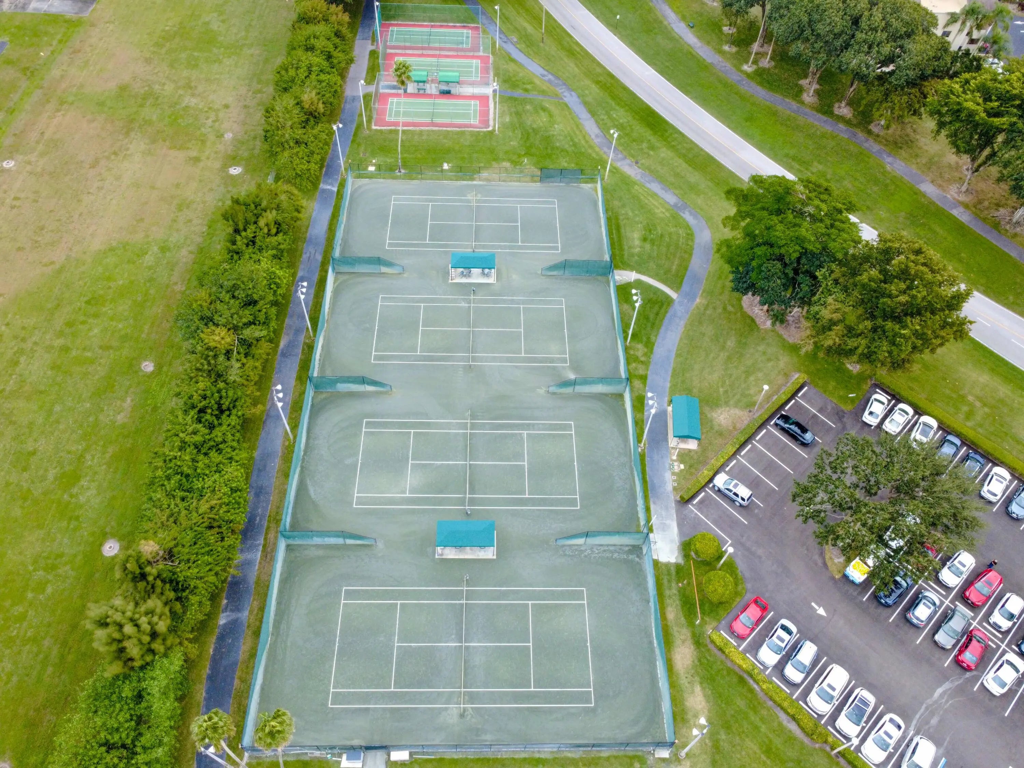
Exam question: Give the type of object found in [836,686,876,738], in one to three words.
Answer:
car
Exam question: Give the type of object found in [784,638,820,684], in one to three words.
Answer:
car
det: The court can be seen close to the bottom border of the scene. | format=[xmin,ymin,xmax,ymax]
[250,544,668,751]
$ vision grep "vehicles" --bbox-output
[906,590,940,628]
[810,663,849,714]
[984,651,1023,696]
[759,618,796,666]
[845,545,880,584]
[836,686,876,738]
[958,450,986,482]
[1013,625,1024,653]
[964,567,1004,607]
[862,393,887,425]
[1007,490,1024,521]
[936,433,963,465]
[910,415,936,449]
[894,733,936,768]
[864,712,904,765]
[934,605,970,649]
[989,591,1024,631]
[776,416,814,446]
[731,595,769,638]
[713,475,753,508]
[956,628,990,671]
[880,573,918,606]
[883,403,911,434]
[784,638,820,684]
[979,466,1010,502]
[939,549,976,588]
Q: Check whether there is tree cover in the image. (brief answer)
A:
Yes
